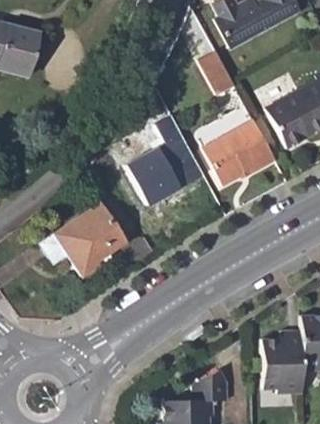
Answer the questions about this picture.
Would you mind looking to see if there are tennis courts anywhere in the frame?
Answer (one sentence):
No, I find no tennis court anywhere in the image.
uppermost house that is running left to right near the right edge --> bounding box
[204,0,308,50]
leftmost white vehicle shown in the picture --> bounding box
[116,295,142,312]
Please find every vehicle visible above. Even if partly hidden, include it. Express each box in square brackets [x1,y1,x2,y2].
[278,218,300,234]
[252,274,275,292]
[116,295,142,312]
[182,325,204,344]
[144,272,166,290]
[211,315,232,330]
[269,198,291,215]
